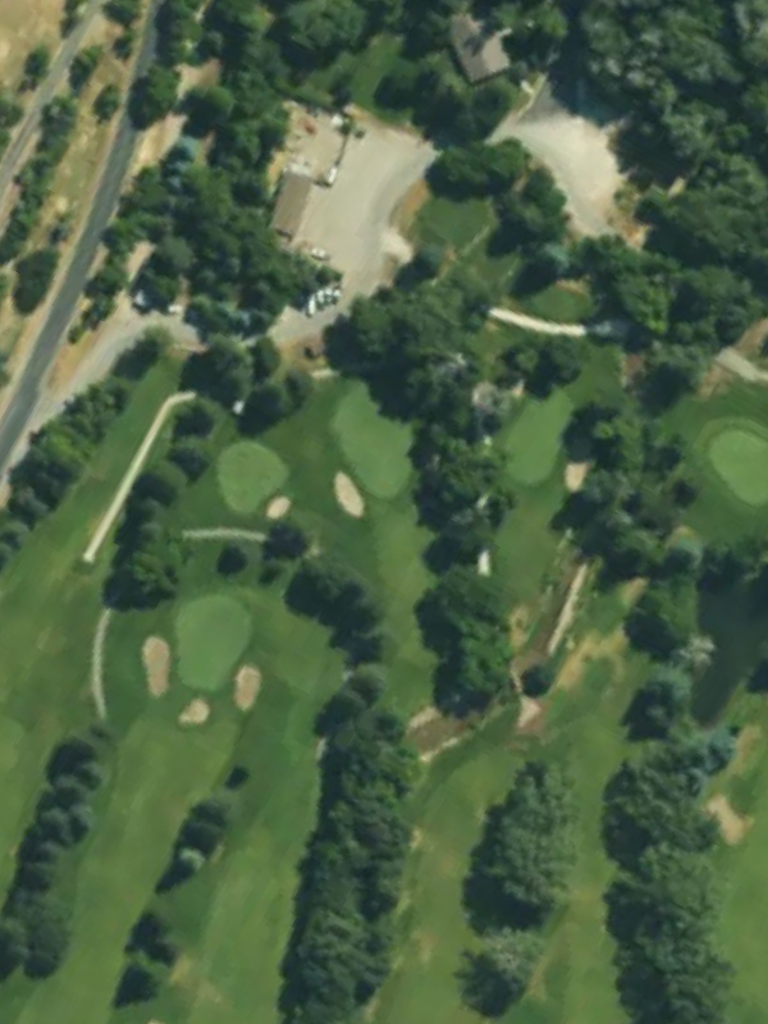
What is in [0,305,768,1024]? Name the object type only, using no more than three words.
golf course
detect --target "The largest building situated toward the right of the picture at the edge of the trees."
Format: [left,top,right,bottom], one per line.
[449,8,507,82]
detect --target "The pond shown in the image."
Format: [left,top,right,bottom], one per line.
[691,561,768,727]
